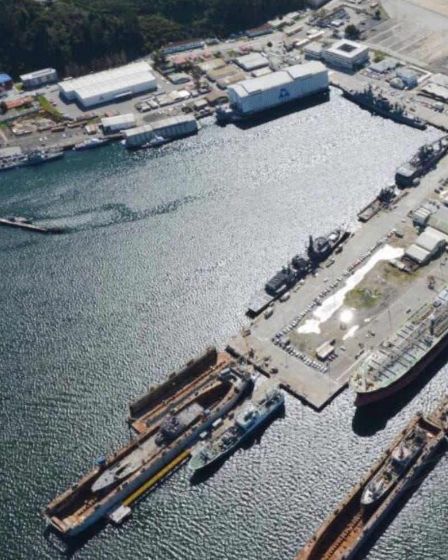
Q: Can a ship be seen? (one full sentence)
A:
Yes, the image includes a ship.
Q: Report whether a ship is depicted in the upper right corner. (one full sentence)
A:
Yes, you'll find a ship in the upper right corner.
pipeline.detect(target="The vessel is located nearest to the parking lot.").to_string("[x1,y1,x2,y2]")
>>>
[344,86,429,134]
